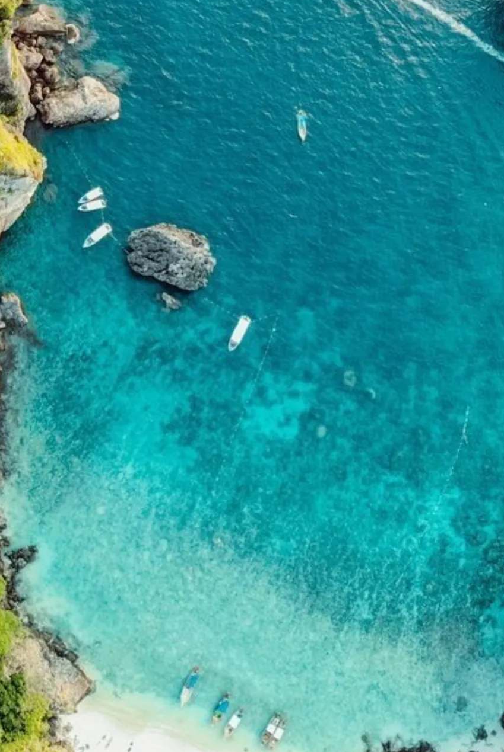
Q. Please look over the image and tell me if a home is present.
No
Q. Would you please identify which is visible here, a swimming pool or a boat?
boat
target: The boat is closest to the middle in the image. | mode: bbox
[229,314,251,350]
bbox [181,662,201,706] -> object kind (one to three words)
boat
